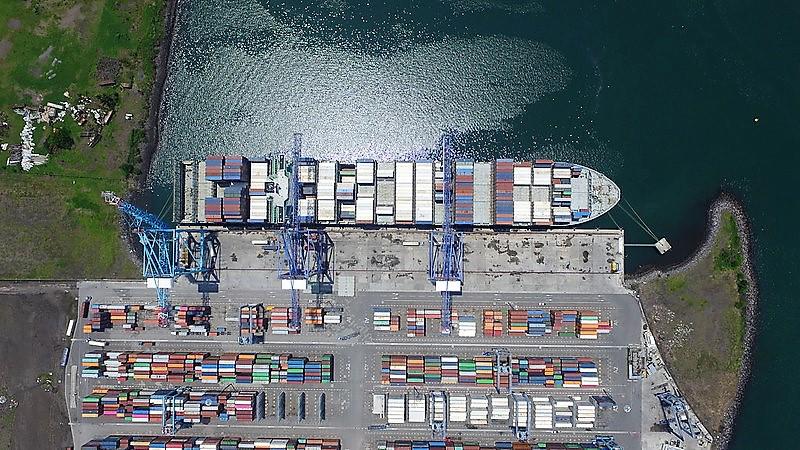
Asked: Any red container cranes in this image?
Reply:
No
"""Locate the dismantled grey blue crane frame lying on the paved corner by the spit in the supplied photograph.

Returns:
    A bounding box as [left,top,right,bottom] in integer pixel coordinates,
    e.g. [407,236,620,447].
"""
[655,394,695,441]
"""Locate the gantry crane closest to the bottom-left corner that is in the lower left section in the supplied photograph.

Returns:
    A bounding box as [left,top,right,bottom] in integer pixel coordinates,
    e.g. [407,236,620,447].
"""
[161,382,190,432]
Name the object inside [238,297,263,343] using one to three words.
container crane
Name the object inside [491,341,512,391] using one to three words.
container crane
